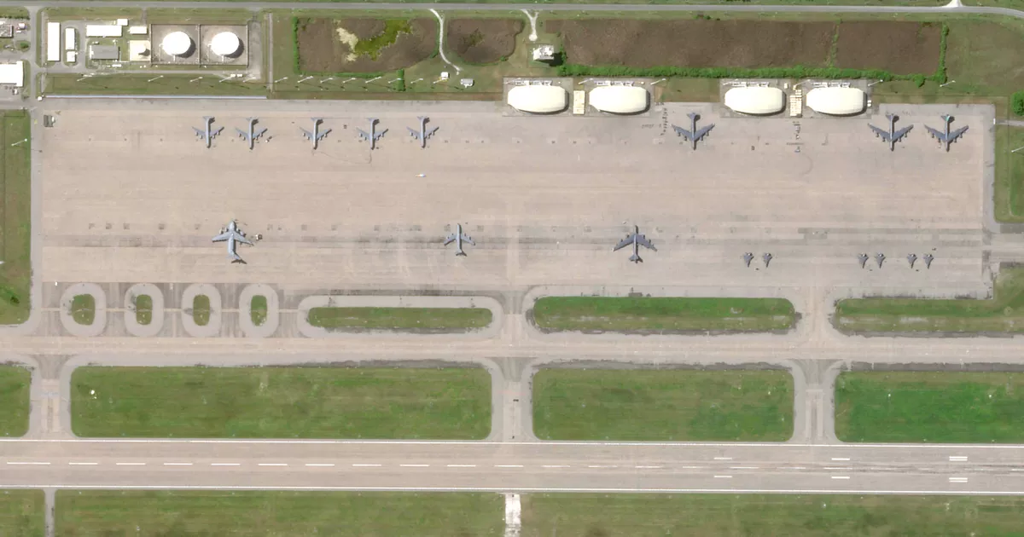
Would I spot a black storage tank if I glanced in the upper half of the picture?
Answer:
No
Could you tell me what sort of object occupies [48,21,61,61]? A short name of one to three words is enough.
building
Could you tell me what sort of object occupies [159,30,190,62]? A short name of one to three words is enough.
storage tank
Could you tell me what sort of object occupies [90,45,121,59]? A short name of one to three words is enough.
building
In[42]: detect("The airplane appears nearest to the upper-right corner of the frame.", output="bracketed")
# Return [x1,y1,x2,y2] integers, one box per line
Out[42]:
[926,114,969,152]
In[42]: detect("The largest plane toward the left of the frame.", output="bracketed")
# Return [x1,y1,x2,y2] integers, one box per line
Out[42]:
[214,222,253,261]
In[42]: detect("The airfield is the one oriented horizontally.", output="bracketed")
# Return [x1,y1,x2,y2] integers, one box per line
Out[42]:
[0,100,1024,496]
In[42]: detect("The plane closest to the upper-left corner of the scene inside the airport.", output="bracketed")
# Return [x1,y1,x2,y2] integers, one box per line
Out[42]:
[193,116,224,148]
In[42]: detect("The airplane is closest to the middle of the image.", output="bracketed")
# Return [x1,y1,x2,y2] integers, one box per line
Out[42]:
[444,223,475,256]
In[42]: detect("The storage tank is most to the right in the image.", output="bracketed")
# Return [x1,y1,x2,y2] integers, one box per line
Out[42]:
[207,30,239,62]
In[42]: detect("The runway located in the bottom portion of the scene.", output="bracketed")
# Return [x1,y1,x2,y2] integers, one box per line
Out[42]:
[0,436,1024,496]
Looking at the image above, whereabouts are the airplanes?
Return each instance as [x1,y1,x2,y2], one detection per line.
[357,117,388,149]
[614,226,658,263]
[858,254,868,267]
[193,116,224,148]
[762,252,772,267]
[870,113,914,151]
[300,117,331,149]
[214,222,253,261]
[926,114,969,152]
[923,254,934,269]
[444,223,475,256]
[743,253,753,266]
[907,254,917,269]
[875,254,885,267]
[407,115,438,148]
[236,117,267,149]
[672,112,716,150]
